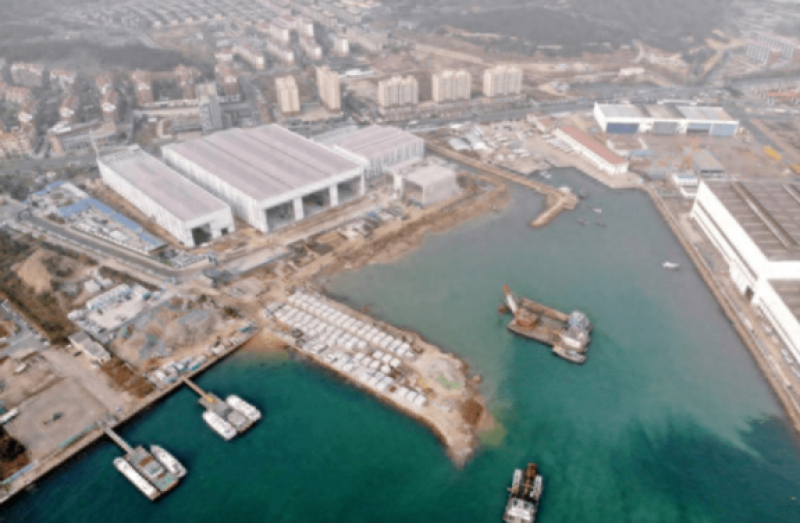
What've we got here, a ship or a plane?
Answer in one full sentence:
There is a ship in the scene.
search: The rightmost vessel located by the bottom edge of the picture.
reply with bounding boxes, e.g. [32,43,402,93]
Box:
[503,468,540,523]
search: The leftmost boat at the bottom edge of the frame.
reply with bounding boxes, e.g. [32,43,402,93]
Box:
[112,458,160,502]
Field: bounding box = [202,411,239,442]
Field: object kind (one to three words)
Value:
boat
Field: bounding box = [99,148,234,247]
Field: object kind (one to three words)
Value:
shed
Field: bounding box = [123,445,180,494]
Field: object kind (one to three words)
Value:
pier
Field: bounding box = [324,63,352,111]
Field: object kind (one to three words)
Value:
building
